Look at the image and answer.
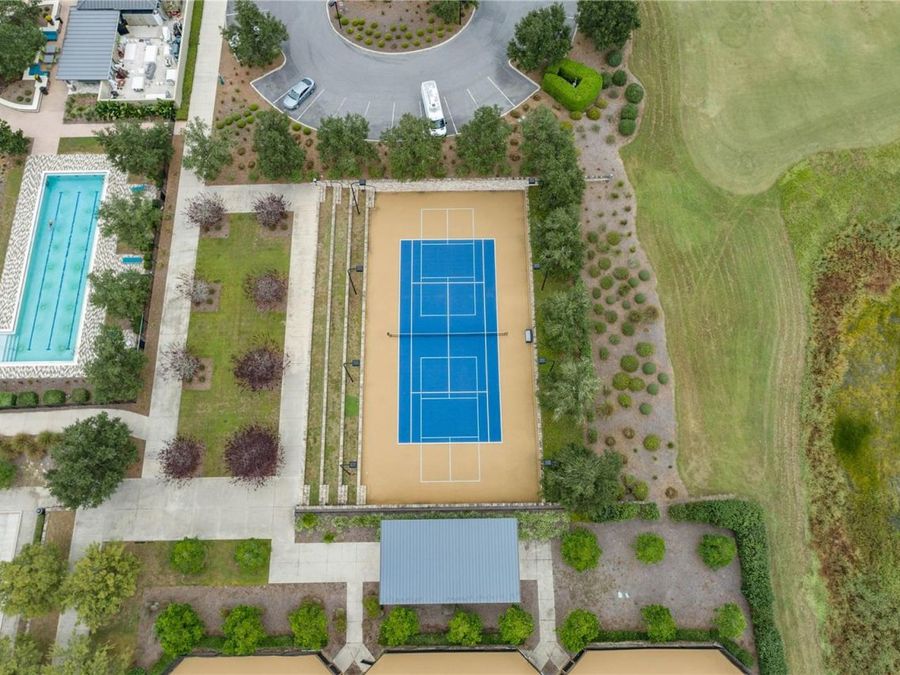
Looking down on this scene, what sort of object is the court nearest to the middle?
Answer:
tennis court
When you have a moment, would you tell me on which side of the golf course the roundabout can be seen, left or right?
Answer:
on its left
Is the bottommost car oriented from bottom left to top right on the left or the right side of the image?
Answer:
left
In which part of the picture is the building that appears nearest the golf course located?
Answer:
bottom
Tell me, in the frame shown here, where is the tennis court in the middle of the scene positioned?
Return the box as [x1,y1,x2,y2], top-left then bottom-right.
[360,190,541,503]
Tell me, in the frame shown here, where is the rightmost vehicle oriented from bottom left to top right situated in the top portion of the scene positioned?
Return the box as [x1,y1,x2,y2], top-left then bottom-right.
[279,75,316,105]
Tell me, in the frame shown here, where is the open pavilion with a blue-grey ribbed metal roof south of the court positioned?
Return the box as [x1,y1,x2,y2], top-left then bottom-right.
[378,518,521,605]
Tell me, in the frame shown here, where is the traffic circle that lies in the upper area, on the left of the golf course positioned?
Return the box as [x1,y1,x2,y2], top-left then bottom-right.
[324,0,476,54]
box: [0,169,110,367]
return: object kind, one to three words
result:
swimming pool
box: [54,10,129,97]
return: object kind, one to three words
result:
building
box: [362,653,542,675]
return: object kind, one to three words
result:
tennis court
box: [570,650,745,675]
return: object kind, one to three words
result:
tennis court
